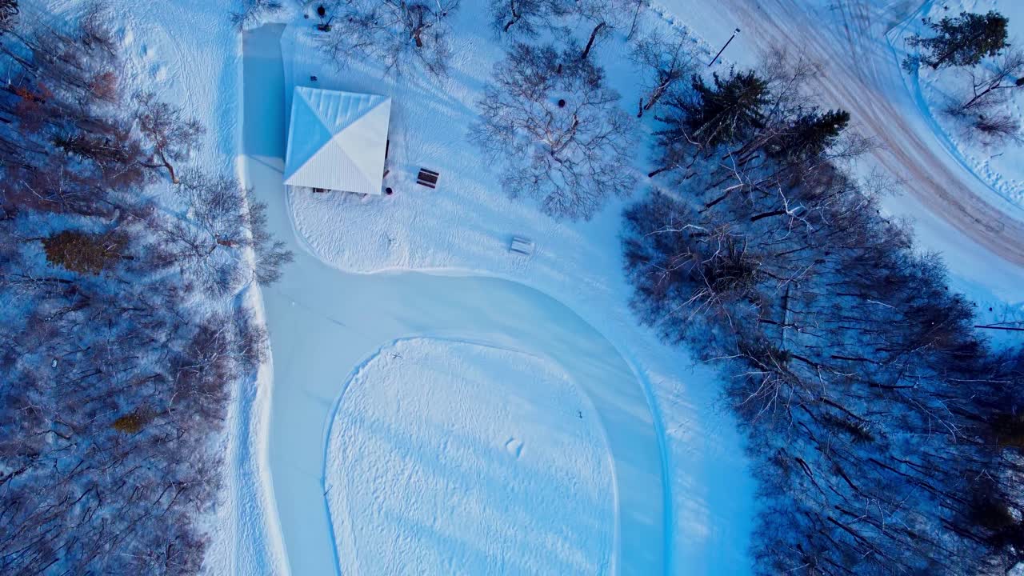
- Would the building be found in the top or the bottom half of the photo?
top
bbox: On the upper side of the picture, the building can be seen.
[284,86,392,195]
